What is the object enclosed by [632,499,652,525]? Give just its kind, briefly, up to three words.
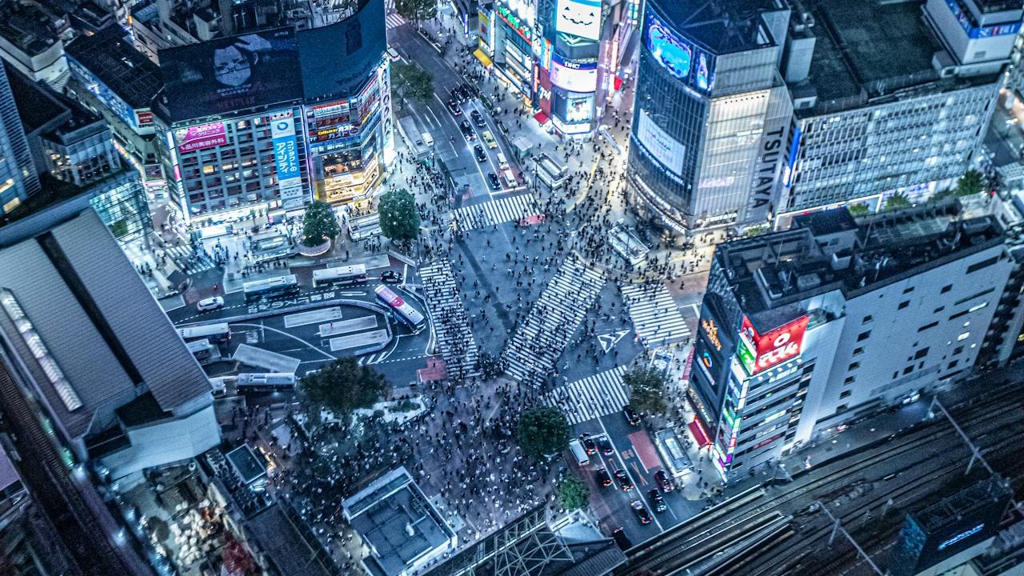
car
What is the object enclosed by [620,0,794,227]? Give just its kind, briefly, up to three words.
building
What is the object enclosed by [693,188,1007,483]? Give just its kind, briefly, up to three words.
building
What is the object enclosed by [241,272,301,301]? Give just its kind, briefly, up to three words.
bus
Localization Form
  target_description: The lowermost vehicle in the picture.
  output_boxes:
[611,524,633,548]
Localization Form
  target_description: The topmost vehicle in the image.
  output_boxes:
[387,45,401,62]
